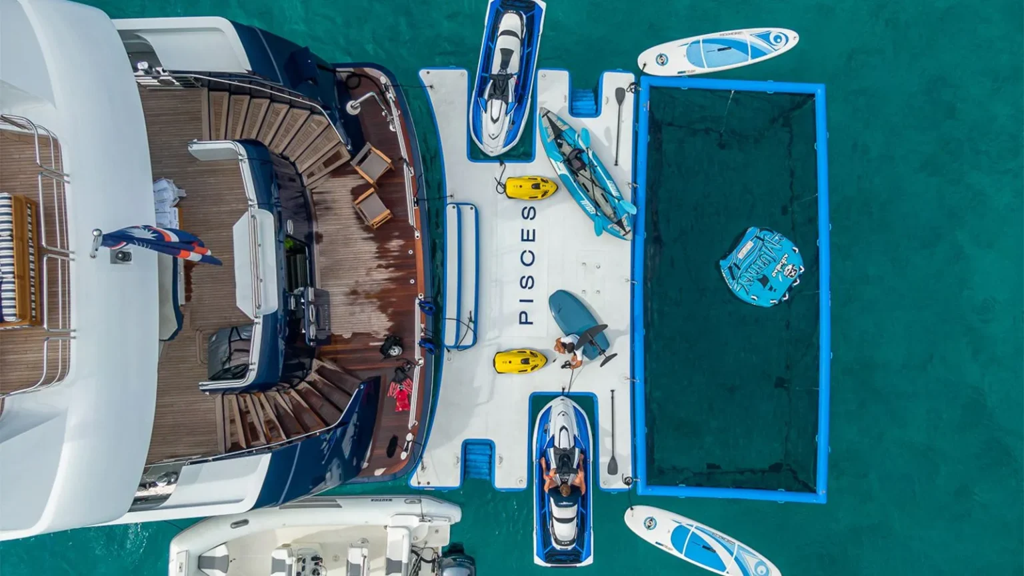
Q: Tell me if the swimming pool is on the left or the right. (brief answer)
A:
right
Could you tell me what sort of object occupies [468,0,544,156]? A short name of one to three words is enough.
boat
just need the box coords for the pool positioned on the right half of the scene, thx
[634,74,832,504]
